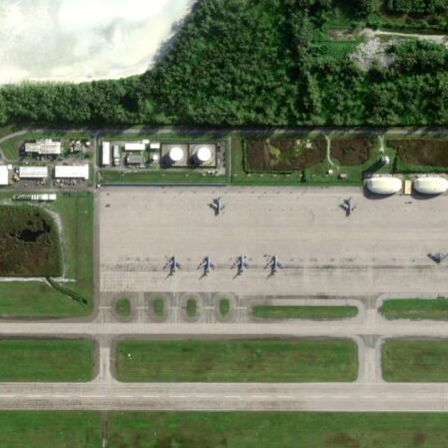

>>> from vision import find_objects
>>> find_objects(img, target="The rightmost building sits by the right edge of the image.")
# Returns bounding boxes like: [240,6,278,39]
[414,176,448,194]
